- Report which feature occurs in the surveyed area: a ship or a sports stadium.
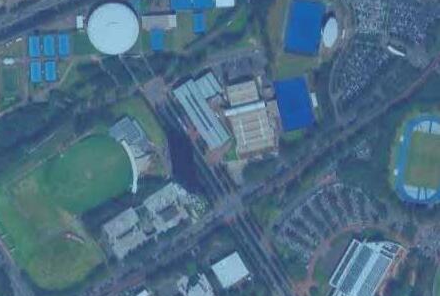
sports stadium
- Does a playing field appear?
Yes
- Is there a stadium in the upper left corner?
Yes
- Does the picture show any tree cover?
Yes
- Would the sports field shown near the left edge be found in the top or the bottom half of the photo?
bottom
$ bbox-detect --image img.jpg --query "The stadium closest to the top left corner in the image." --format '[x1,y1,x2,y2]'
[87,3,140,55]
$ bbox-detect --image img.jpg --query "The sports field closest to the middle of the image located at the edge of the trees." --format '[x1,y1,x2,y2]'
[274,77,316,131]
